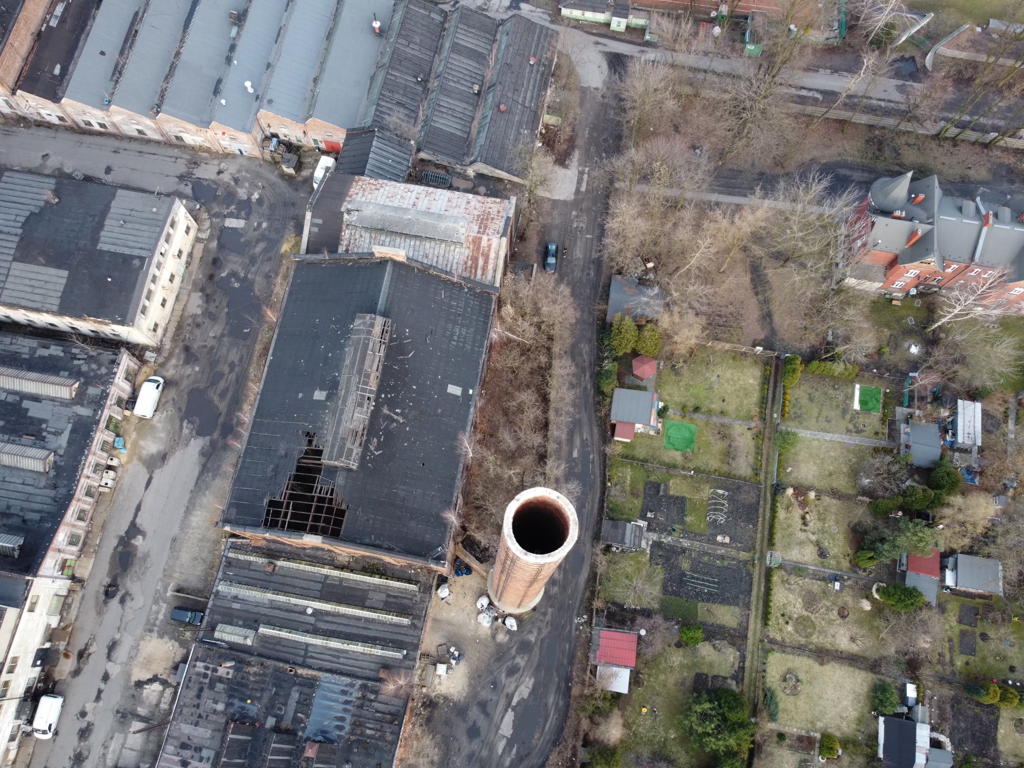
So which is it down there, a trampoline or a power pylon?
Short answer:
trampoline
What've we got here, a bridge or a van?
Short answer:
van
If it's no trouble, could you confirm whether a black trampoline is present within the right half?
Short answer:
No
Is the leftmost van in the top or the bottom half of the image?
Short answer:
bottom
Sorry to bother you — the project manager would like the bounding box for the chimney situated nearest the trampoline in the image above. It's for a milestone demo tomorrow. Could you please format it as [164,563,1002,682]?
[486,488,577,616]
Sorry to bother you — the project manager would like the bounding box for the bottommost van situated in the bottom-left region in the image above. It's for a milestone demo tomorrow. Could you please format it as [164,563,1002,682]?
[29,691,64,743]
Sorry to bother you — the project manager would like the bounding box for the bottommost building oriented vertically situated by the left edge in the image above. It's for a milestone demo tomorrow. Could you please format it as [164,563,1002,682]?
[0,570,80,768]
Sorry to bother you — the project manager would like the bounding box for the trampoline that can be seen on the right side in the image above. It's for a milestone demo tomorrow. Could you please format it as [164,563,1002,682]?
[664,420,696,452]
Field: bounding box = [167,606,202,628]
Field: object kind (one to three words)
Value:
car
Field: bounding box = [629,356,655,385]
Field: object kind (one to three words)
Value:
gazebo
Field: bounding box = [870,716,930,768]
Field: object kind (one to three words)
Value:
house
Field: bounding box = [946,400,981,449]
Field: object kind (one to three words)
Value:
shed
